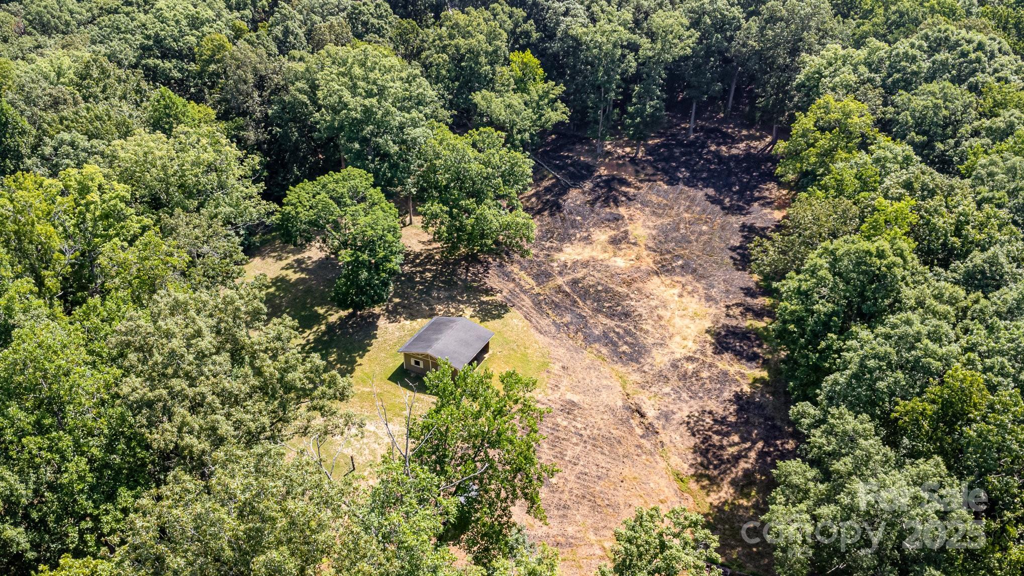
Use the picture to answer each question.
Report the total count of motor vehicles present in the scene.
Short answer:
0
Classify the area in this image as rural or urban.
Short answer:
rural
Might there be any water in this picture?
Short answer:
No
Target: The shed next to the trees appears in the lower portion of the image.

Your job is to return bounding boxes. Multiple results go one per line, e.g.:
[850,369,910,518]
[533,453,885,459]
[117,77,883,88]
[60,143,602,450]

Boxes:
[398,316,494,386]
